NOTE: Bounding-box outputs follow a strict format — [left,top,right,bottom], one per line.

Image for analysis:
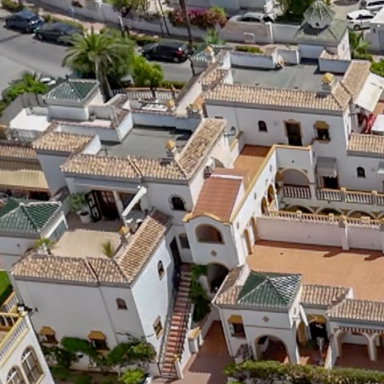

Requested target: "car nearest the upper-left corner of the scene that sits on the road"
[0,7,45,31]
